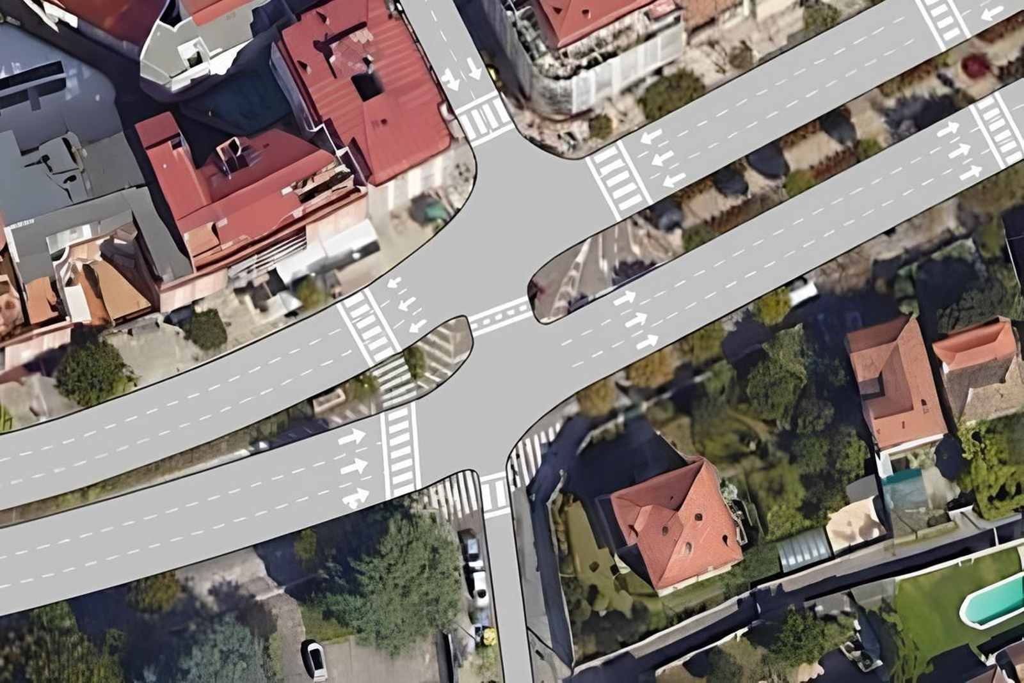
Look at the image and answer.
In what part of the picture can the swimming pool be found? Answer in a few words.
bottom right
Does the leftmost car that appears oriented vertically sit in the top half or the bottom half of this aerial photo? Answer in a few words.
bottom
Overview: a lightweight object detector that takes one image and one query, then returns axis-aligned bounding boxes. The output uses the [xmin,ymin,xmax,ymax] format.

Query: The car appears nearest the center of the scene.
[566,290,592,310]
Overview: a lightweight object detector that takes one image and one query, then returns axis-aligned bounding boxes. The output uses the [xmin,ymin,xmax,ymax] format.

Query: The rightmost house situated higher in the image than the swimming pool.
[929,318,1024,449]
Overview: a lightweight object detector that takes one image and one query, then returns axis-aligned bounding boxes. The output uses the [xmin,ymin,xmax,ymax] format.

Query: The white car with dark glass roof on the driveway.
[303,639,326,683]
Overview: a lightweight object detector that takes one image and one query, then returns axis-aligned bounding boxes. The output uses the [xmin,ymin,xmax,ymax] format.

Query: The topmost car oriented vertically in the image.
[466,529,483,566]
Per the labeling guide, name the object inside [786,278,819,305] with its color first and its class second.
white vehicle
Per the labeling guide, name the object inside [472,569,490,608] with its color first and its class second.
white car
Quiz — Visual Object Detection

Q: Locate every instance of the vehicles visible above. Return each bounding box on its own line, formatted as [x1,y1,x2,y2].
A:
[566,290,592,310]
[476,606,493,643]
[472,569,490,608]
[466,529,483,566]
[786,278,819,305]
[303,639,326,683]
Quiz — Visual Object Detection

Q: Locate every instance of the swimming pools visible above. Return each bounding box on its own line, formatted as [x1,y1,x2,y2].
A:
[959,574,1024,630]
